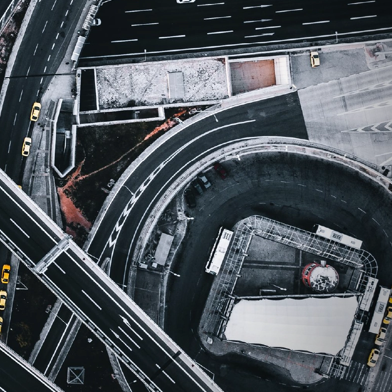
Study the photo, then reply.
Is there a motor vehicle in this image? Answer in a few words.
Yes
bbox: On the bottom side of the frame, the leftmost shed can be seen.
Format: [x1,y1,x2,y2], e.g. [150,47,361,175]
[149,231,174,266]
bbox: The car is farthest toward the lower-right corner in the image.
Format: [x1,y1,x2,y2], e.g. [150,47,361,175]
[365,346,379,367]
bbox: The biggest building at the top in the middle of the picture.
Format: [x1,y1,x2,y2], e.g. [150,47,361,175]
[79,53,295,117]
